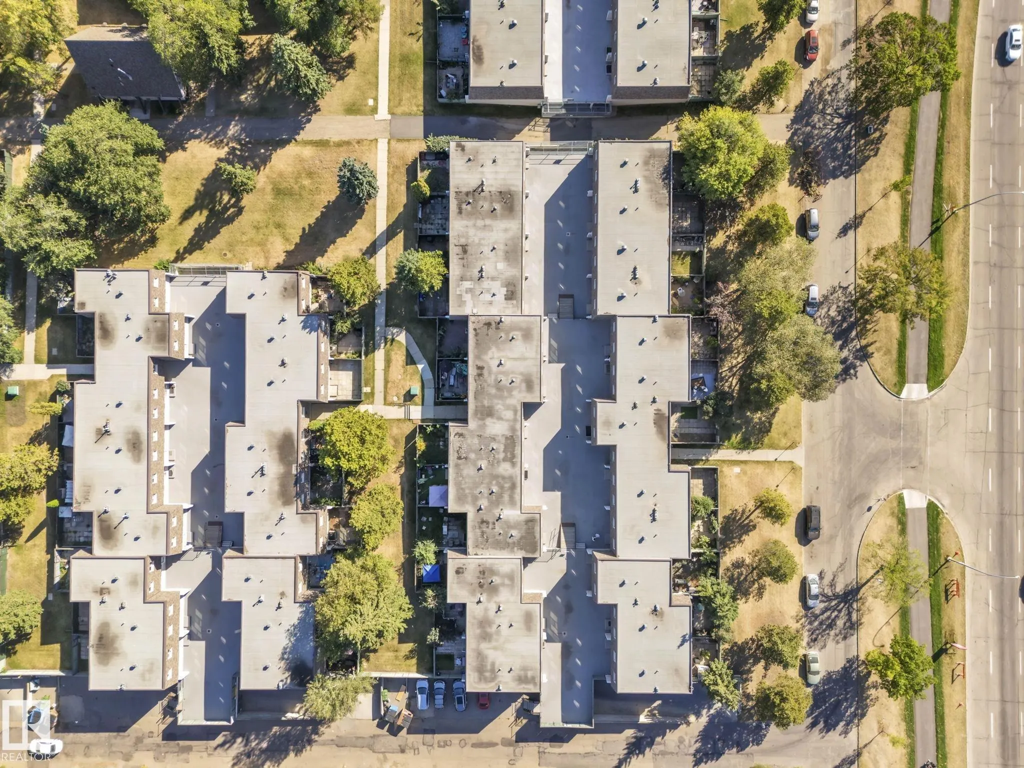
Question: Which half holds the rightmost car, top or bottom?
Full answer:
The rightmost car sits in the top half of the picture.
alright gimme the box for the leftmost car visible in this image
[30,737,65,755]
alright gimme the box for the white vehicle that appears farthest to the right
[1003,26,1024,63]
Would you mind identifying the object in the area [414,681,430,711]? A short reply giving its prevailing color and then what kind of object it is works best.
blue car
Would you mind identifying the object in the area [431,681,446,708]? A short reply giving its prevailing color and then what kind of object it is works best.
blue car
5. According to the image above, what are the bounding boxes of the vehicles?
[30,737,65,755]
[804,208,822,242]
[804,0,821,27]
[414,681,430,711]
[804,574,821,607]
[804,284,821,316]
[804,505,823,539]
[803,29,821,63]
[431,681,446,708]
[477,693,490,711]
[452,681,468,712]
[804,650,822,684]
[1003,26,1024,63]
